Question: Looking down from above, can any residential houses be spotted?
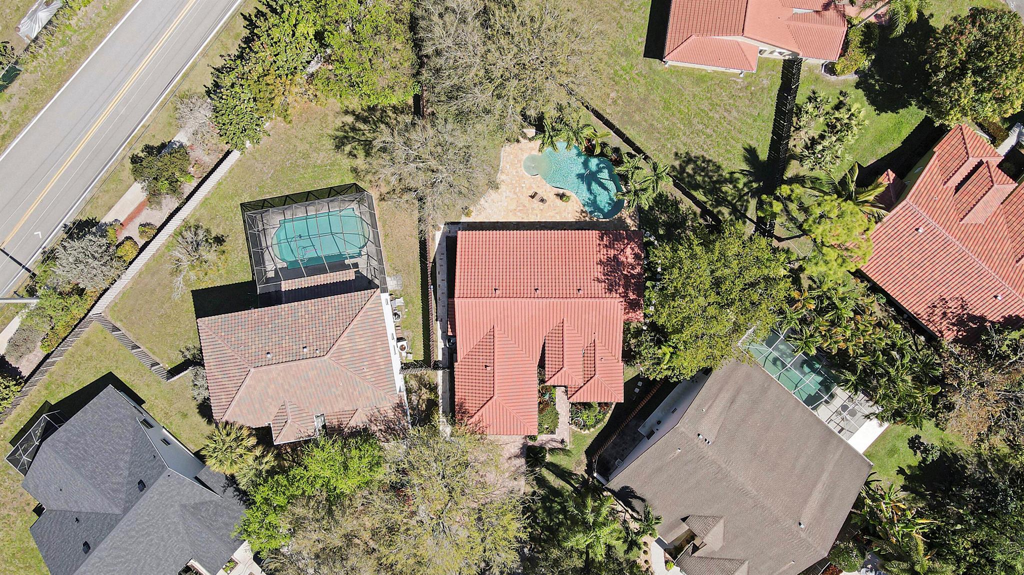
Yes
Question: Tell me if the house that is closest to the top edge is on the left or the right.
right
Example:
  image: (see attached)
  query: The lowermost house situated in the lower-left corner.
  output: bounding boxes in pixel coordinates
[22,384,251,575]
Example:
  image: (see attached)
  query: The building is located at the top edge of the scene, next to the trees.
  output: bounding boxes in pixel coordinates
[663,0,848,75]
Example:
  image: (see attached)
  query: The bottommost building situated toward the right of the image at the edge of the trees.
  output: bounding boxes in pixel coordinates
[604,346,874,575]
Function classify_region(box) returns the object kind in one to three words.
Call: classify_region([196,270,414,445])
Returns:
house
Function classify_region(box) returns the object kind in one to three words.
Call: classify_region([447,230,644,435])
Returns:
house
